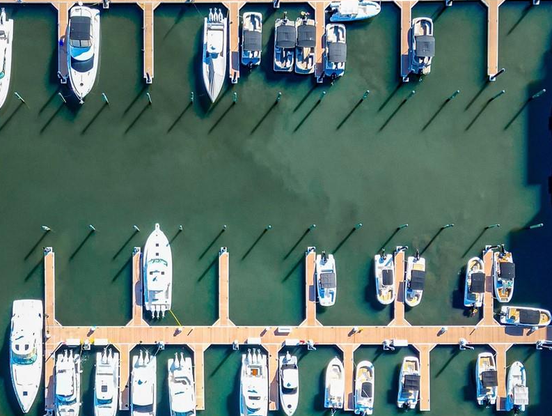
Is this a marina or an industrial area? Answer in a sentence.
The area seen from above is a marina.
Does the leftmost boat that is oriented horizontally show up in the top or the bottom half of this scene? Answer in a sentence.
The top half of the photo is where the leftmost boat that is oriented horizontally is.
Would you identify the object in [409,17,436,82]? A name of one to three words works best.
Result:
boat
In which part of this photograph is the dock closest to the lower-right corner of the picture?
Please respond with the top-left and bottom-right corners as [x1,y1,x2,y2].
[489,345,514,411]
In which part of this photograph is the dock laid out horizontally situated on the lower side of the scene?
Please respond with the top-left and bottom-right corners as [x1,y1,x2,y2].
[45,327,552,345]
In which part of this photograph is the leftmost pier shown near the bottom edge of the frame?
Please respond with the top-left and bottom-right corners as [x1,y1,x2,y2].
[45,345,62,411]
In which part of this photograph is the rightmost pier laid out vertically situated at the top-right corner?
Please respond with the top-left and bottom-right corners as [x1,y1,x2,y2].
[480,2,505,77]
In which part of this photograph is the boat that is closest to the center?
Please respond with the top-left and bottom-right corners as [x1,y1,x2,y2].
[314,248,336,307]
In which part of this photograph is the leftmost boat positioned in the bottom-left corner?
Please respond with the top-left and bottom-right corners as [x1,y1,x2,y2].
[10,297,46,415]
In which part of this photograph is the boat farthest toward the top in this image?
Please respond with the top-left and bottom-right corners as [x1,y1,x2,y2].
[326,0,382,21]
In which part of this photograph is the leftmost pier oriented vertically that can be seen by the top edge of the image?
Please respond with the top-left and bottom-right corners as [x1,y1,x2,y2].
[50,2,75,81]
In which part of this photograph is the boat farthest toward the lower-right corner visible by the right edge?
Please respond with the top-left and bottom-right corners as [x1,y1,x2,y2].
[506,360,529,416]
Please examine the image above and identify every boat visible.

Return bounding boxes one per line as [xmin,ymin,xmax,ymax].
[294,15,316,76]
[130,344,157,416]
[491,245,516,303]
[167,347,197,416]
[352,360,375,416]
[397,356,421,413]
[475,353,499,411]
[402,250,427,307]
[323,24,347,87]
[494,306,552,328]
[93,341,120,416]
[54,343,82,416]
[240,12,261,73]
[273,16,296,74]
[10,297,46,415]
[506,360,529,416]
[200,5,226,103]
[278,346,299,416]
[238,345,269,416]
[143,223,173,320]
[323,357,344,416]
[66,4,101,106]
[326,0,382,21]
[314,248,336,307]
[464,257,486,314]
[0,8,17,110]
[409,17,436,82]
[373,248,396,305]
